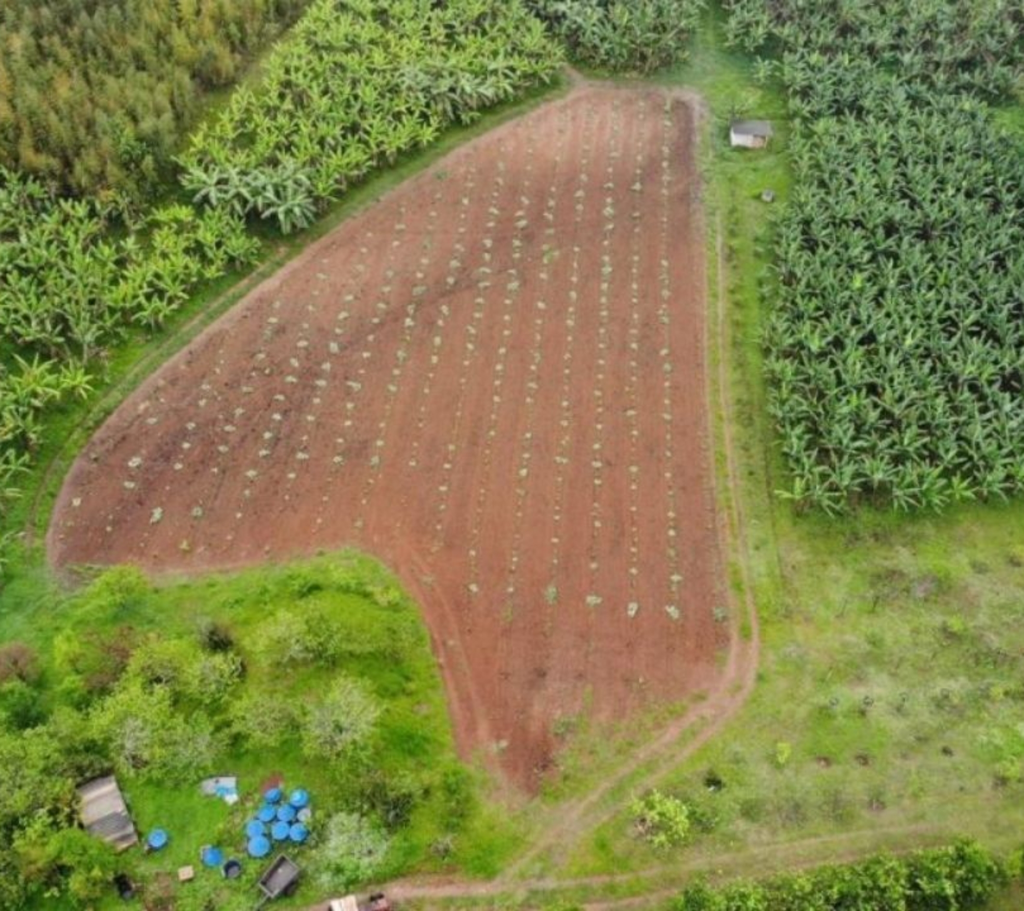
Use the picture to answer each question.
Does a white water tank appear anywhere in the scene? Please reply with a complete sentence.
No, no white water tank can be seen from above.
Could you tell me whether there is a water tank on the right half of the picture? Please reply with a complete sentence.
No, I see no water tank on the right half of the picture.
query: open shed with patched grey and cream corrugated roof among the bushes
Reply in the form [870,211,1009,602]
[84,772,151,856]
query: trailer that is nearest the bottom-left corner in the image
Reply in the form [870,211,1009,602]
[253,853,300,909]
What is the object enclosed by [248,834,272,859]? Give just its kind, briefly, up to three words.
water tank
